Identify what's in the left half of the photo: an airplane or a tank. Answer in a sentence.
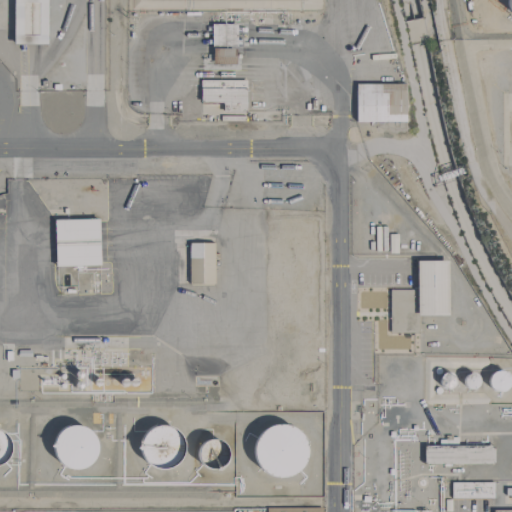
The feature located in the left half of the photo is a tank.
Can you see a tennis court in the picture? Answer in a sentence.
No, the photo shows no tennis court.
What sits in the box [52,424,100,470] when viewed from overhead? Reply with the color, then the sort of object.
white storage tank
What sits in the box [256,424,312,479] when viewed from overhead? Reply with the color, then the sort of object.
white storage tank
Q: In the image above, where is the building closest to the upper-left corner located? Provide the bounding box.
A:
[15,0,49,44]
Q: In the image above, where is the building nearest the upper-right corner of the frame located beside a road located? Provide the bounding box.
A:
[358,83,410,122]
